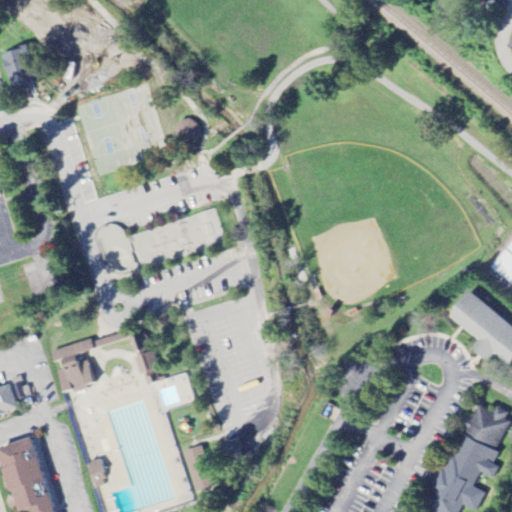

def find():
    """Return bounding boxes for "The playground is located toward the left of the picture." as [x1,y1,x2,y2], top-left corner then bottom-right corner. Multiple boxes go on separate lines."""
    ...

[175,415,199,439]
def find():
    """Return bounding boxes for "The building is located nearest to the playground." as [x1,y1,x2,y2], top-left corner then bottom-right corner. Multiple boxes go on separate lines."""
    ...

[184,445,208,494]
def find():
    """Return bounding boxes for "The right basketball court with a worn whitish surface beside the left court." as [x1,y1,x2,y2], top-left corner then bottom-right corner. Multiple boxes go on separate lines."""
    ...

[112,82,165,163]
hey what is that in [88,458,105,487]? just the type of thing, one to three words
shed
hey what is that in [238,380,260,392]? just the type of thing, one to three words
vehicle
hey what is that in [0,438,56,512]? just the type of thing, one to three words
building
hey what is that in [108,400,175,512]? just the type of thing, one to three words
swimming pool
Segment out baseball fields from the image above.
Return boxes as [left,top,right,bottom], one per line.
[314,218,396,304]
